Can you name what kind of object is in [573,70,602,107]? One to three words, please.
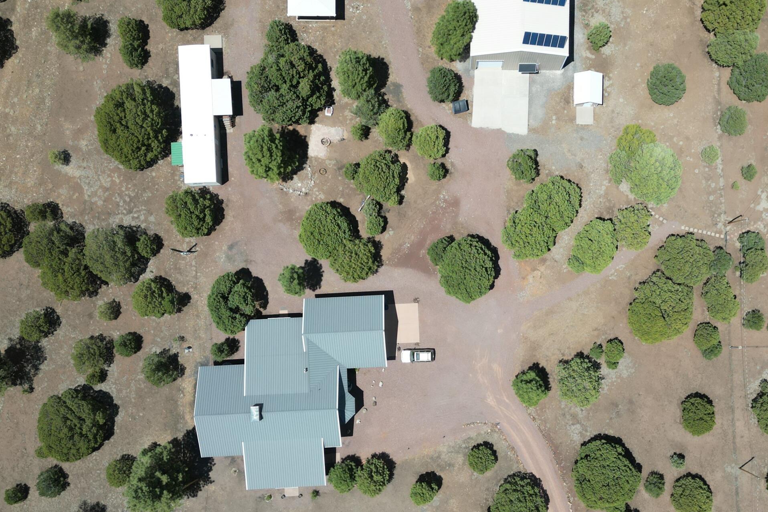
shed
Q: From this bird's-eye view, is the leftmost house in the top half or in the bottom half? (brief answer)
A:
top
